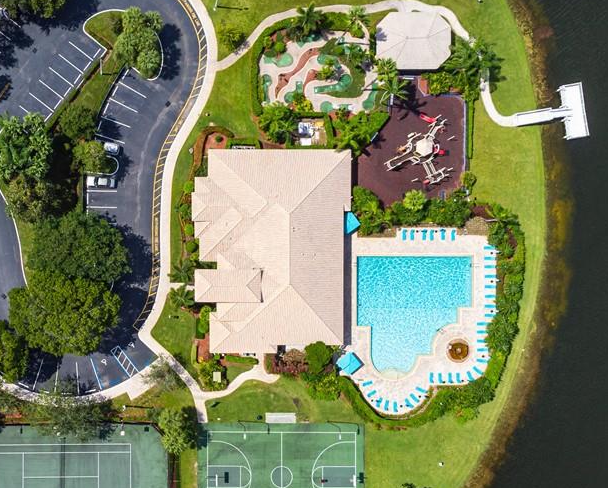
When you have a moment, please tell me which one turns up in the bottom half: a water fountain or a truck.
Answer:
water fountain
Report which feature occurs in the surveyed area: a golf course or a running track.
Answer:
golf course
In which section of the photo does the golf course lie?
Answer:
top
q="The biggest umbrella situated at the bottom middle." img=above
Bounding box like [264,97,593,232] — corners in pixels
[336,350,363,376]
